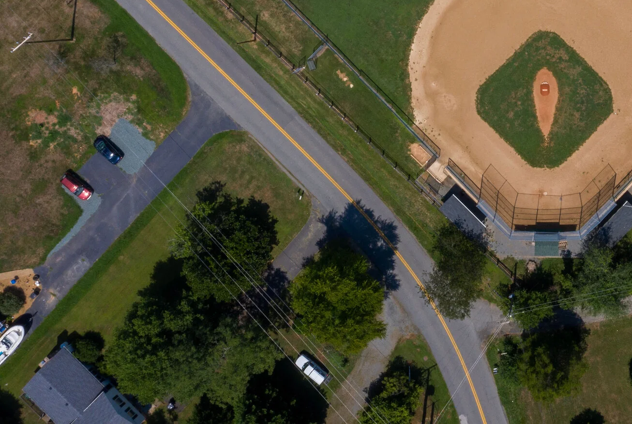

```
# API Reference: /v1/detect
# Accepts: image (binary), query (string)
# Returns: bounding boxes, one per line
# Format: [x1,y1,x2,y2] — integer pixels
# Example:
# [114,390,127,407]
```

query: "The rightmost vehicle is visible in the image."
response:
[292,355,331,391]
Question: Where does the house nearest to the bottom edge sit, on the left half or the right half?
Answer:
left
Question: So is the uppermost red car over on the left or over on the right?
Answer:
left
